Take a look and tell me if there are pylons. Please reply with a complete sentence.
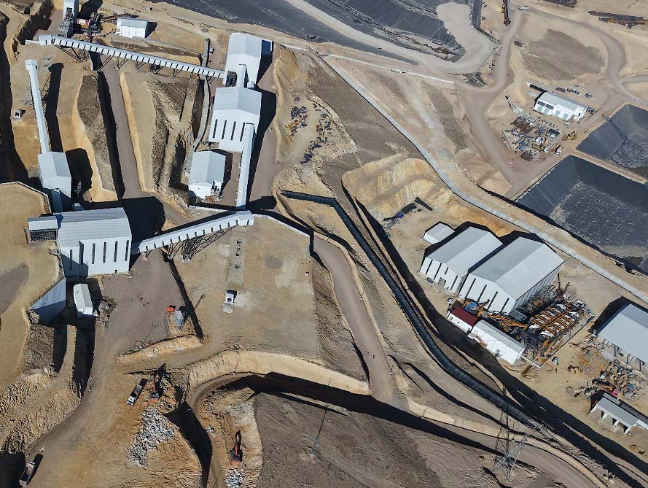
Yes, the photo shows a pylon.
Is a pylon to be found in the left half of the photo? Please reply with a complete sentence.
No, no pylon is visible in the left half of the photo.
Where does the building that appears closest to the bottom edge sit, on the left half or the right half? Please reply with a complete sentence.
It is on the right.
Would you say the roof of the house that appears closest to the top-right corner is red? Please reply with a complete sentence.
No, from above the roof of the house that appears closest to the top-right corner looks white.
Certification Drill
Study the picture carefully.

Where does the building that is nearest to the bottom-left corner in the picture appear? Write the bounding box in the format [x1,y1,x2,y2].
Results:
[72,285,93,318]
